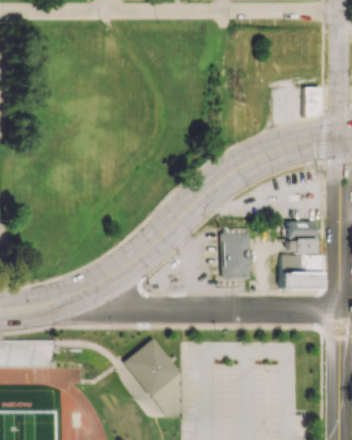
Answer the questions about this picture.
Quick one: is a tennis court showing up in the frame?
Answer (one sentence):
No, the picture doesn't show any tennis court.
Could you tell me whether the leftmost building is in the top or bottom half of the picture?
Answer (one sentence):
It is in the bottom half that the leftmost building appears.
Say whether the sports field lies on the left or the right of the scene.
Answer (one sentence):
The sports field appears in the left half of the scene.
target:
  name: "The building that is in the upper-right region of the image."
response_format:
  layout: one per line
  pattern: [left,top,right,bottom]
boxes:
[302,86,324,118]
